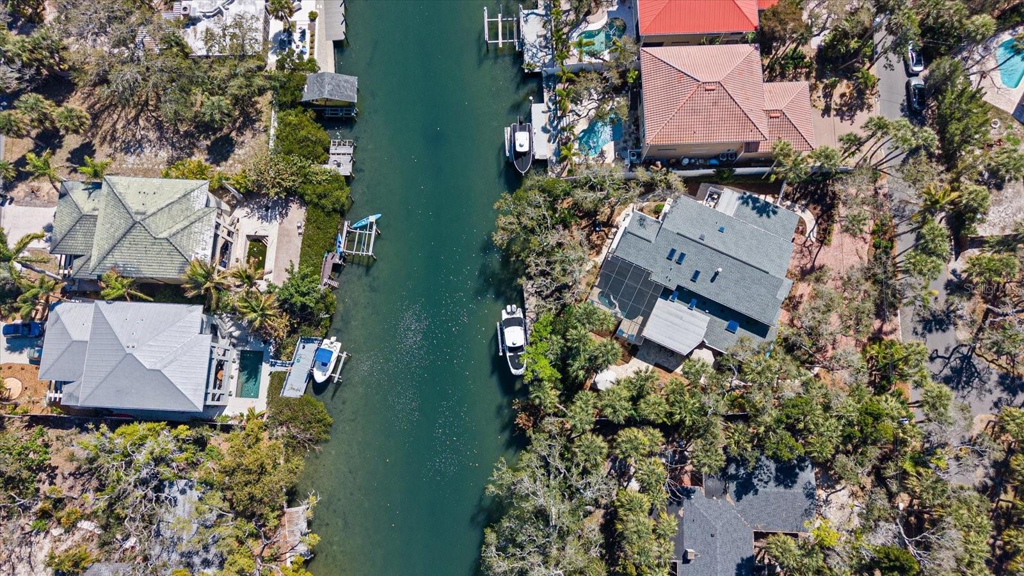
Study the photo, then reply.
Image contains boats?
Yes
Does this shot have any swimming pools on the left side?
Yes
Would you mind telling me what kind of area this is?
residential area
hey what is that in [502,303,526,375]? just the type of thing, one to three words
boat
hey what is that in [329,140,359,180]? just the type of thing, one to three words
pier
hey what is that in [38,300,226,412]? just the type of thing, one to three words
house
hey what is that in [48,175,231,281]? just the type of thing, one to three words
house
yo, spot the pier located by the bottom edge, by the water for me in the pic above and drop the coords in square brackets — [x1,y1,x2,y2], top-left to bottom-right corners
[284,506,318,563]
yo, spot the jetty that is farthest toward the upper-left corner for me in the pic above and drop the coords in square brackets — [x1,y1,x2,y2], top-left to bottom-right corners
[325,0,345,42]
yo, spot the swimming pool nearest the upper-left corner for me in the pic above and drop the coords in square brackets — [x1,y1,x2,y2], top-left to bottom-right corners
[242,233,270,274]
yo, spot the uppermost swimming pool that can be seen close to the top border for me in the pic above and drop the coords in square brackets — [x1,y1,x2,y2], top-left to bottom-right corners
[573,11,633,61]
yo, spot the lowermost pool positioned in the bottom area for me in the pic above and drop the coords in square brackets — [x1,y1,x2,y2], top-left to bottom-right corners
[233,348,265,400]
